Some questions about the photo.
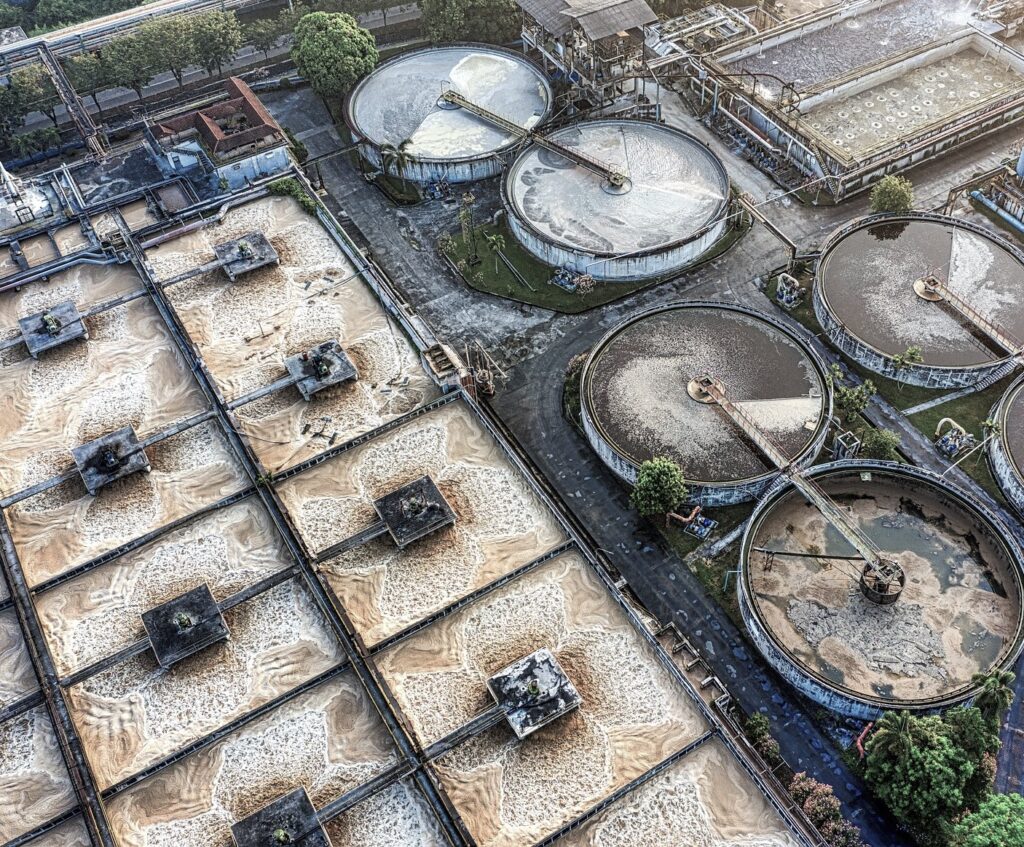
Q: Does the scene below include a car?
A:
No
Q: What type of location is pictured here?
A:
industrial area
